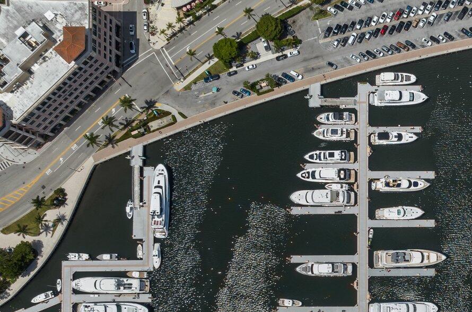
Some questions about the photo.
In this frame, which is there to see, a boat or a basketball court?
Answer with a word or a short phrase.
boat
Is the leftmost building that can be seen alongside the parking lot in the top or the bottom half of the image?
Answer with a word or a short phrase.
top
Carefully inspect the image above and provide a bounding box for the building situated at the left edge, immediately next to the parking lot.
[0,0,122,136]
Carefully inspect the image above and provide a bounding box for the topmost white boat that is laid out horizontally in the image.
[375,71,416,86]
